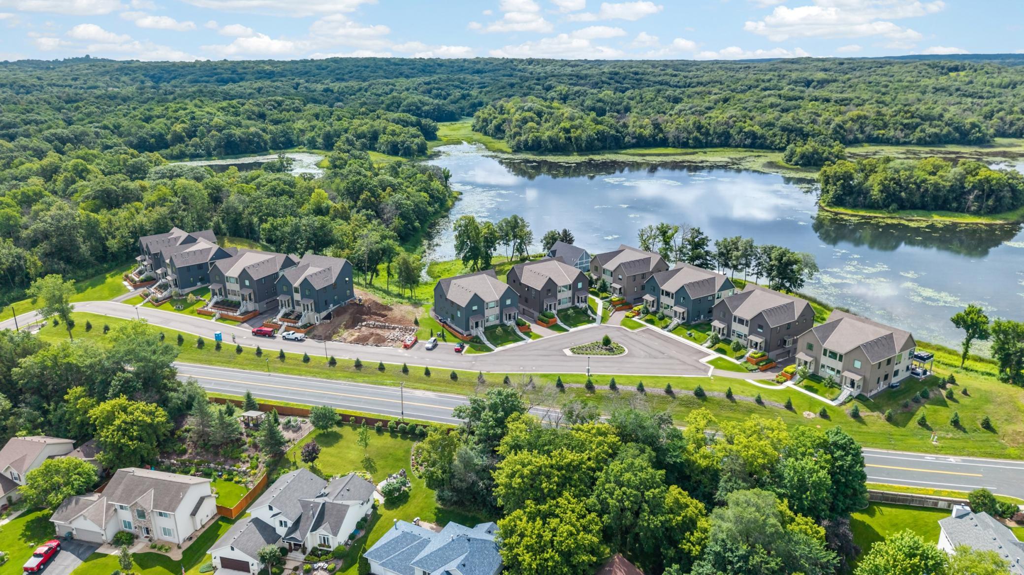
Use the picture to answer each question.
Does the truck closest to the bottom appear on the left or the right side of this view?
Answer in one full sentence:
The truck closest to the bottom appears in the left half of the scene.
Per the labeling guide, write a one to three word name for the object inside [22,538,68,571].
truck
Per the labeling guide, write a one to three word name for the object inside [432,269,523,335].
house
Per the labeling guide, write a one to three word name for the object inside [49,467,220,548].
house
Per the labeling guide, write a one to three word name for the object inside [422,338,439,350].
vehicle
